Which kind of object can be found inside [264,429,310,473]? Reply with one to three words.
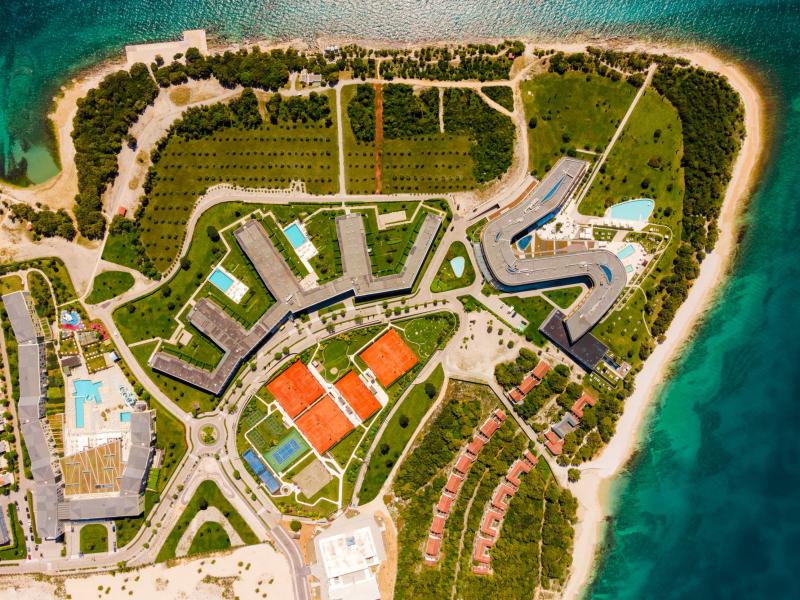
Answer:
tennis court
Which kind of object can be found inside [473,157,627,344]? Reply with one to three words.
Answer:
building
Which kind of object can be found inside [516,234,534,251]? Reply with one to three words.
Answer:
swimming pool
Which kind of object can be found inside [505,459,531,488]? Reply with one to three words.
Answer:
house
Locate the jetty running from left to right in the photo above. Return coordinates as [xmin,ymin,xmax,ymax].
[125,28,207,64]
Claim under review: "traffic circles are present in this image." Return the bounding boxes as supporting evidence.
[191,417,226,452]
